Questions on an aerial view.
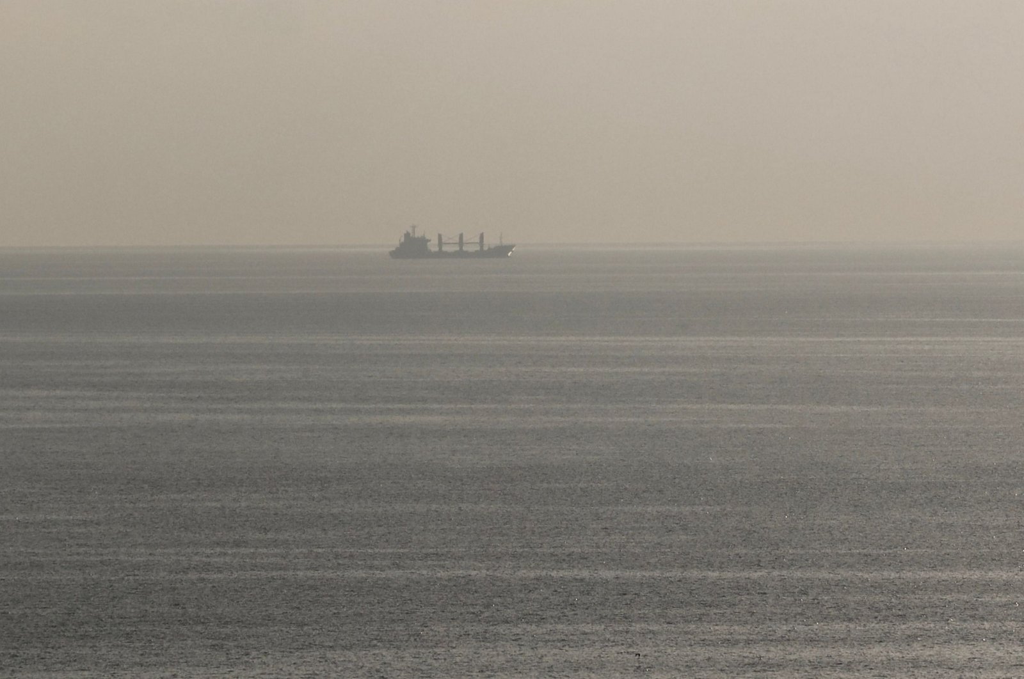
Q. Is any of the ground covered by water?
Yes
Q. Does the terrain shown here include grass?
No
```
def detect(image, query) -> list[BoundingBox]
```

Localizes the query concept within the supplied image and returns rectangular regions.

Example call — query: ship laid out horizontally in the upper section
[388,223,515,258]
